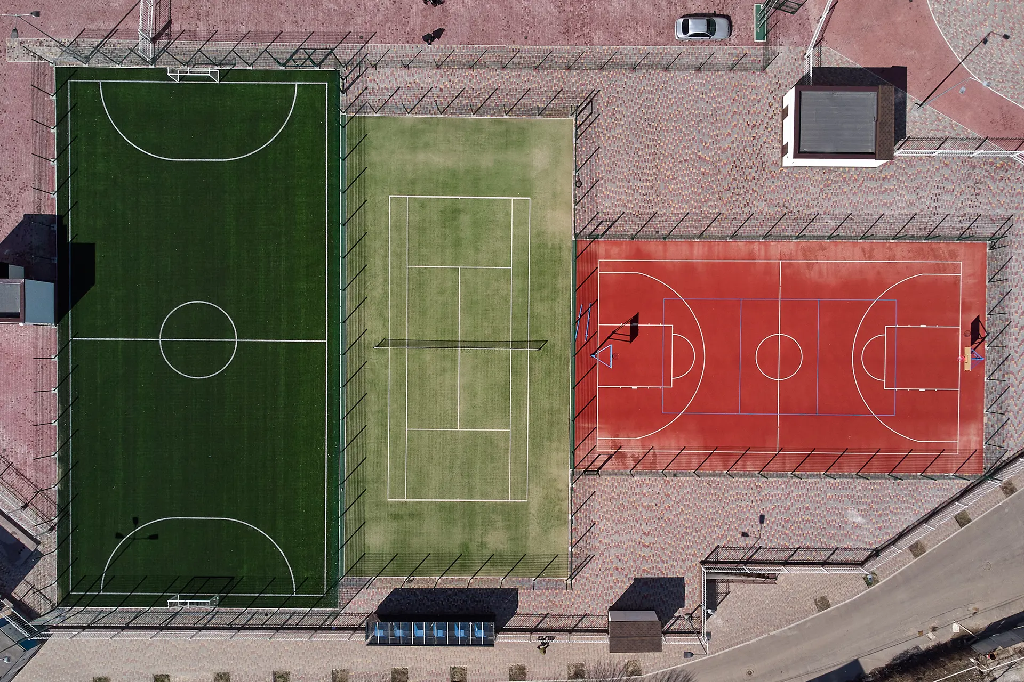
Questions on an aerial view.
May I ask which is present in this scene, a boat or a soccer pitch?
soccer pitch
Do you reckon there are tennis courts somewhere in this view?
Yes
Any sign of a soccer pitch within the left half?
Yes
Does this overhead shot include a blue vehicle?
No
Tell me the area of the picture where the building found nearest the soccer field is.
left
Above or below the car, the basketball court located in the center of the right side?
below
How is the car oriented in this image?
from left to right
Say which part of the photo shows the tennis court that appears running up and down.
center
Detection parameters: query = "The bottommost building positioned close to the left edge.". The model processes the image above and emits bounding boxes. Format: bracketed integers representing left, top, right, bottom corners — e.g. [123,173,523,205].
[0,278,56,326]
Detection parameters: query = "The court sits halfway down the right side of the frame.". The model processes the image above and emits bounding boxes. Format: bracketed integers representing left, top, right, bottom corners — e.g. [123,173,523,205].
[573,240,987,474]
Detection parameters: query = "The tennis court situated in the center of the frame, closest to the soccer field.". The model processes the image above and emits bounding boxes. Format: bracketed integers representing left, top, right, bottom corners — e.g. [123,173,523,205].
[345,116,573,577]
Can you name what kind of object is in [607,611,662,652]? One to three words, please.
shed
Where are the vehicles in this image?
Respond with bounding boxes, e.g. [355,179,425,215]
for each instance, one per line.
[674,11,731,40]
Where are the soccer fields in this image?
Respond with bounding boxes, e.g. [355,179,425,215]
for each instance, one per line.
[56,67,339,608]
